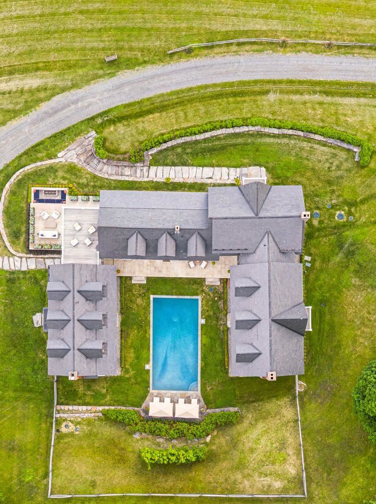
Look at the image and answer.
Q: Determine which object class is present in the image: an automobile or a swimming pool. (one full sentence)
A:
The one in the frame is a swimming pool.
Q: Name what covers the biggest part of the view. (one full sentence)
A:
Most of the picture is covered by grass.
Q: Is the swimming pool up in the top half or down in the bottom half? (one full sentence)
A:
Seen from above, the swimming pool lies in the bottom half of the view.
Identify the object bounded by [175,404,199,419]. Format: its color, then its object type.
white umbrella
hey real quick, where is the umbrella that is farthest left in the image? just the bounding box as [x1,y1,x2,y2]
[149,402,173,417]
